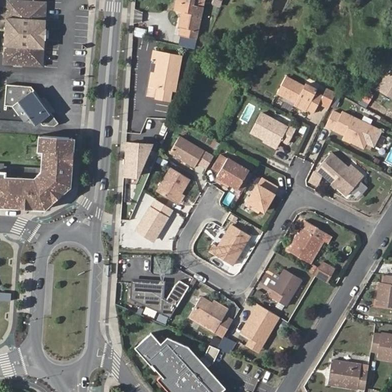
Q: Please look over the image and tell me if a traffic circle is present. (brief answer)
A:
Yes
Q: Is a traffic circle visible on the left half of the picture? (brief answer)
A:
Yes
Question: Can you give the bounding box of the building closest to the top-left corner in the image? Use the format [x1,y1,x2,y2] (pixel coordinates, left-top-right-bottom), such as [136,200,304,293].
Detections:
[2,0,48,67]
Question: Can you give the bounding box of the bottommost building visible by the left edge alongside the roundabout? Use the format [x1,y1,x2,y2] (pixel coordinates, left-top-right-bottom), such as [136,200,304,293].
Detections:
[0,136,76,210]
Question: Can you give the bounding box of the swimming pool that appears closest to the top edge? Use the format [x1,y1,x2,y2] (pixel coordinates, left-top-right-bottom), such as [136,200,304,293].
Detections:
[238,100,257,124]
